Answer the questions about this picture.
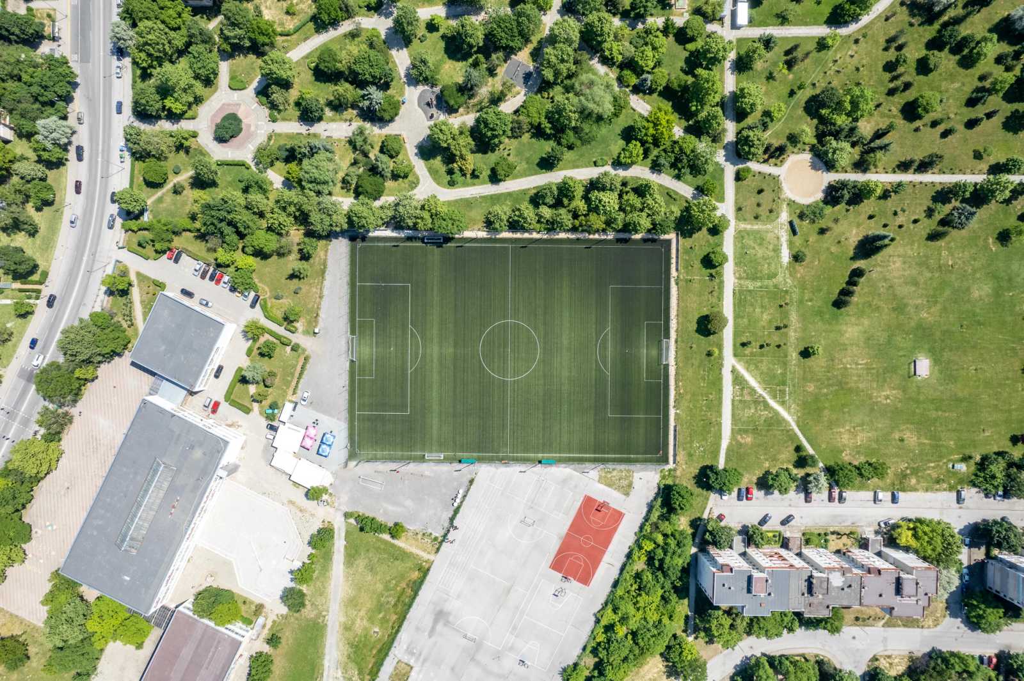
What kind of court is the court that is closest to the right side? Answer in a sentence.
The court that is closest to the right side in the image is a basketball court.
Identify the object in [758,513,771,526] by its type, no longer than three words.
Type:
vehicle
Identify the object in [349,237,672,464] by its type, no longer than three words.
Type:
soccer field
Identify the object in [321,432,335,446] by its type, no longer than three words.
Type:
umbrella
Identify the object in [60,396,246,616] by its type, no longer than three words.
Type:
building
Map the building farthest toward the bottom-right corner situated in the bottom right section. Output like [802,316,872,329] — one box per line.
[987,556,1024,608]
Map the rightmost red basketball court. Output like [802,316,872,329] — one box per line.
[549,495,625,587]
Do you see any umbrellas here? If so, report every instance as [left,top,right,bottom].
[321,432,335,446]
[317,443,331,457]
[301,436,315,450]
[305,425,319,439]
